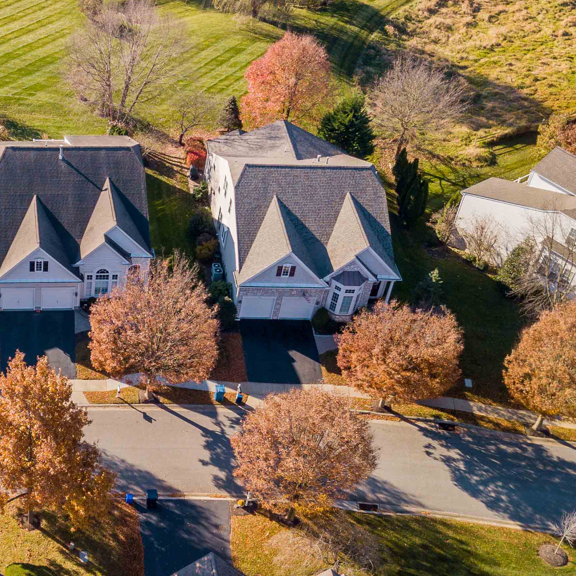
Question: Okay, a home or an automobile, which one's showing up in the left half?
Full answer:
There is a home in the left half.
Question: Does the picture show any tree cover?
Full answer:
Yes, there is tree cover in the image.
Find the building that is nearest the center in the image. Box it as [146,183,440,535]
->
[206,116,398,319]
